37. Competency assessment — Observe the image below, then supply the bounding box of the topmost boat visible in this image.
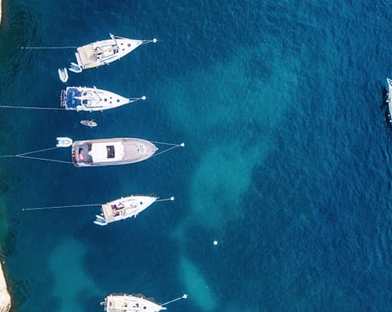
[74,34,145,67]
